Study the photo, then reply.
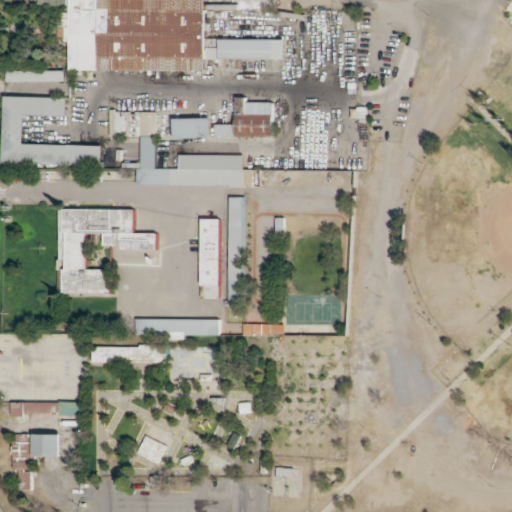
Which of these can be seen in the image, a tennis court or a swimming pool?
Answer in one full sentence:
This aerial view contains a tennis court.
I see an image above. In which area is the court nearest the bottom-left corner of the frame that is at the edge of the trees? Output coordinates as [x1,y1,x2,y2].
[172,348,216,380]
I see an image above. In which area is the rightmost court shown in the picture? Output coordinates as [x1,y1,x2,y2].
[286,295,341,324]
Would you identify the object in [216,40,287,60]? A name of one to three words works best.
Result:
shed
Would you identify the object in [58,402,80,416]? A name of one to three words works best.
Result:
house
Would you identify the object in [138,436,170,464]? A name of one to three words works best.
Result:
building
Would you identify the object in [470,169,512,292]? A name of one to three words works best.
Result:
baseball field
